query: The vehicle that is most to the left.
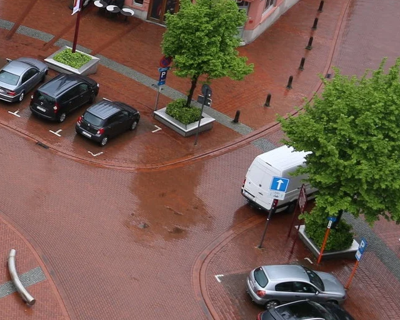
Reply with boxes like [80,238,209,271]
[0,48,51,95]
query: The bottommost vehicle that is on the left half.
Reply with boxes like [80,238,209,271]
[81,93,138,138]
